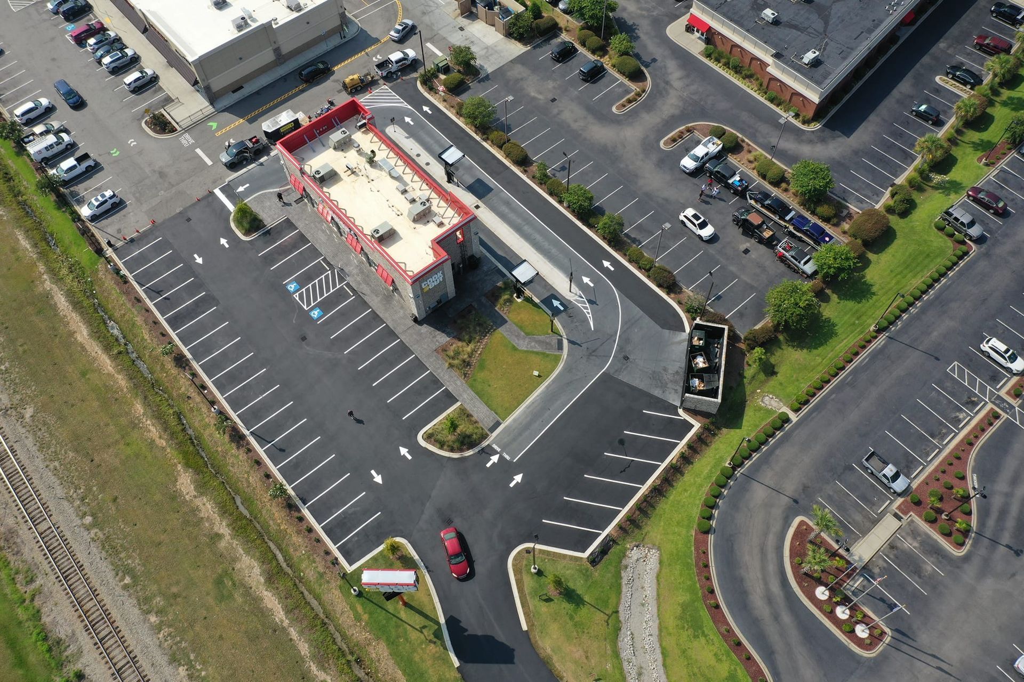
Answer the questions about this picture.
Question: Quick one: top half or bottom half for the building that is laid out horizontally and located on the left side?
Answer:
top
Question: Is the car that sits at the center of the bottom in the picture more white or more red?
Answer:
red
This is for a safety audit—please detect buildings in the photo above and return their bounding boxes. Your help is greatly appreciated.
[680,0,927,118]
[107,0,366,107]
[276,101,480,321]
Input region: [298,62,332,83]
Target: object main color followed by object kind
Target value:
black car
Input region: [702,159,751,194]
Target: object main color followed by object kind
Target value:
black truck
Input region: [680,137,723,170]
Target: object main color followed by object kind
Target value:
white truck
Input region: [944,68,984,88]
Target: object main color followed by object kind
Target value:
black car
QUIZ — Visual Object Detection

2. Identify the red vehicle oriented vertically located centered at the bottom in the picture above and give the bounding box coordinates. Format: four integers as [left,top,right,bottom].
[441,525,469,580]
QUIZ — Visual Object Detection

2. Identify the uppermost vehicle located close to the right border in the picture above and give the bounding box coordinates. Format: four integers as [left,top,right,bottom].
[990,4,1024,27]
